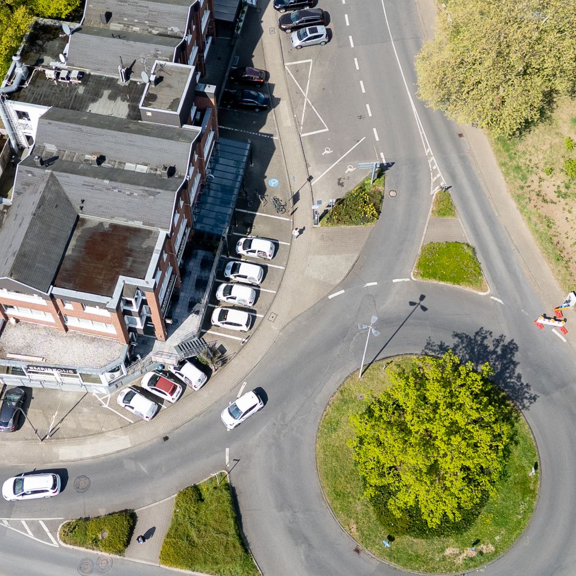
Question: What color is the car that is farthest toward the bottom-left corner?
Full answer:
The car that is farthest toward the bottom-left corner is white.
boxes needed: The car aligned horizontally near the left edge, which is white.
[4,472,62,505]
